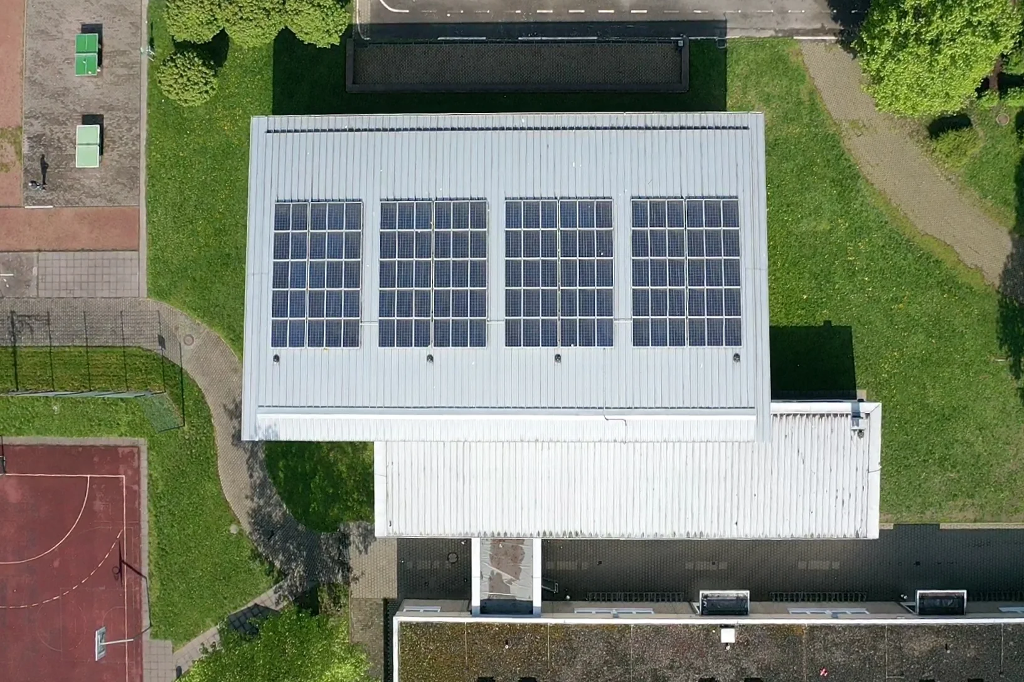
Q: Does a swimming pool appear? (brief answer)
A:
No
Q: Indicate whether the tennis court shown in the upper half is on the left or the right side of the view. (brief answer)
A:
left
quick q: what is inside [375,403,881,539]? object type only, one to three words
building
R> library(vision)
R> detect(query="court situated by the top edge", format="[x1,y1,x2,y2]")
[24,0,140,205]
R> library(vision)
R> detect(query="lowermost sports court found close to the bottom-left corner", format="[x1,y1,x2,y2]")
[0,446,144,682]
